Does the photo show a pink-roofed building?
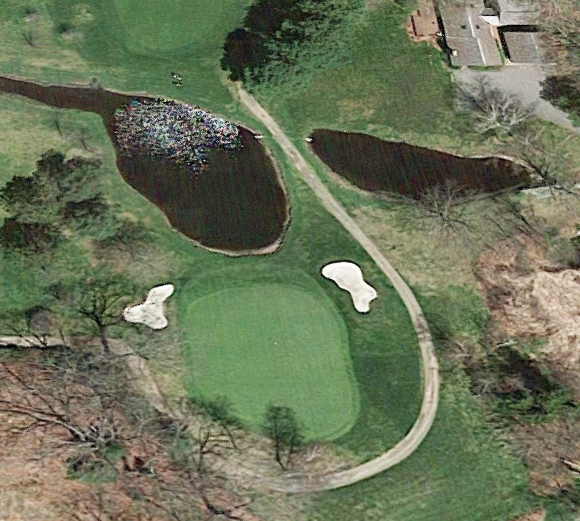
No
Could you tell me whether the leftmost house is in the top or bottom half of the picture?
top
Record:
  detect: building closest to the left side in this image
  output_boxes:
[428,0,503,70]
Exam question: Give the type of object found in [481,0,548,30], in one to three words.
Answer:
house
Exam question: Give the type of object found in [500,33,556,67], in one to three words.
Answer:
building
